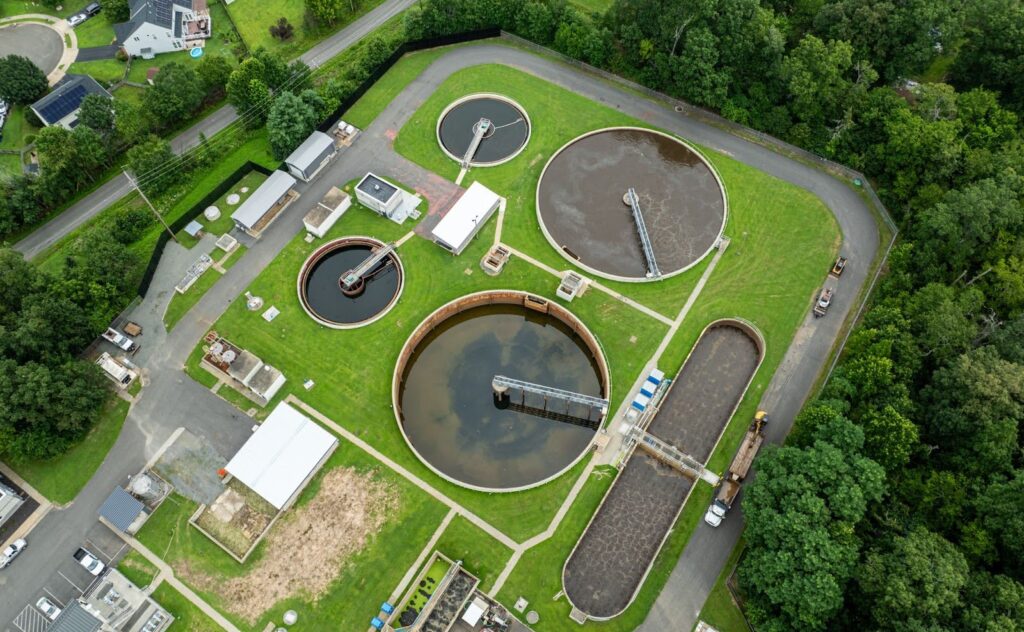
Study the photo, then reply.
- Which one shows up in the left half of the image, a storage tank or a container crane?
storage tank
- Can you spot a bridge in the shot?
Yes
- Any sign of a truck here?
Yes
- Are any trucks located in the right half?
Yes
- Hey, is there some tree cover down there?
Yes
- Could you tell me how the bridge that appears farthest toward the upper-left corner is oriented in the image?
on a diagonal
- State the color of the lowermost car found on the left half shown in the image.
white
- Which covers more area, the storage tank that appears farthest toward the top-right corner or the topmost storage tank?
the storage tank that appears farthest toward the top-right corner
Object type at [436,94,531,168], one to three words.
storage tank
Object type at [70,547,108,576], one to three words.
truck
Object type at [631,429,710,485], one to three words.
bridge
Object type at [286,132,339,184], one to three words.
barn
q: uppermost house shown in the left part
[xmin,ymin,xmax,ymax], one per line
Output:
[107,0,214,58]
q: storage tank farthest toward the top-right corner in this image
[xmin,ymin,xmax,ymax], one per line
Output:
[538,127,730,283]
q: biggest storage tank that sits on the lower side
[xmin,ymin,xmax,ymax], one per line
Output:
[393,289,612,492]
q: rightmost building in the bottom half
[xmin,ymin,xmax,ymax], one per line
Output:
[463,597,487,627]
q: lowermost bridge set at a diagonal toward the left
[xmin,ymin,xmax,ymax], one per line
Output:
[340,242,398,288]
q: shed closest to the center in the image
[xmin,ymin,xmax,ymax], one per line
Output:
[430,183,503,255]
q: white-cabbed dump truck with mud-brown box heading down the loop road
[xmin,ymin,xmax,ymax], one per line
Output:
[702,474,743,527]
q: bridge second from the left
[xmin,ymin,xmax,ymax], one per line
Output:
[463,116,494,167]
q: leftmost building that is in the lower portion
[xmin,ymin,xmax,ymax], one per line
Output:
[0,478,35,527]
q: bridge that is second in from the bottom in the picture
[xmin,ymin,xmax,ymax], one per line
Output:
[492,376,610,415]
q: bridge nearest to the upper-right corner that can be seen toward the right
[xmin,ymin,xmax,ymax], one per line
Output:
[626,186,659,276]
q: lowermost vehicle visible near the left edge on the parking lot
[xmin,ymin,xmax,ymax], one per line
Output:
[34,595,63,620]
